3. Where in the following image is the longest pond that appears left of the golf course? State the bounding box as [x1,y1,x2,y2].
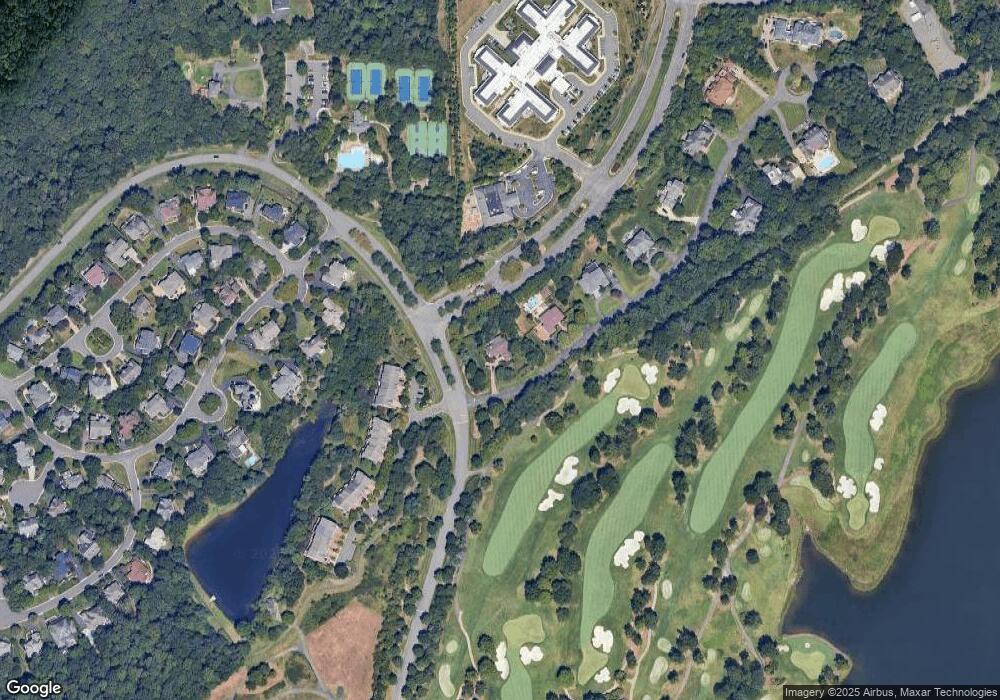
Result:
[187,404,335,619]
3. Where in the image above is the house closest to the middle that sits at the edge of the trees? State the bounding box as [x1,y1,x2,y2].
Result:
[485,334,510,360]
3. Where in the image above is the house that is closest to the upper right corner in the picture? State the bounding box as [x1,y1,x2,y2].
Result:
[870,68,905,98]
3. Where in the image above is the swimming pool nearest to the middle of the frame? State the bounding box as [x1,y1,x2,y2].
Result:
[524,294,548,316]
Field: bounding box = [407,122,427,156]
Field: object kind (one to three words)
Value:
sports court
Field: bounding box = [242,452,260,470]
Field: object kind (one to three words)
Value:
swimming pool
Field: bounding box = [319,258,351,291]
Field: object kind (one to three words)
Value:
house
